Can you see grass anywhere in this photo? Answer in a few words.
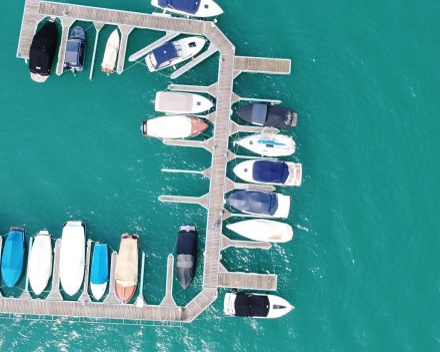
No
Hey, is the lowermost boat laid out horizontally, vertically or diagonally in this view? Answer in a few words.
horizontally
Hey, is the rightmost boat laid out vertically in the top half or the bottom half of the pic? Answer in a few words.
bottom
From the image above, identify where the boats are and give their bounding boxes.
[235,104,296,129]
[60,221,86,296]
[91,242,110,301]
[30,17,59,85]
[223,292,295,319]
[175,223,196,290]
[65,26,85,74]
[226,190,291,219]
[141,115,208,139]
[150,92,214,114]
[28,230,53,296]
[145,38,208,74]
[233,134,296,156]
[114,233,139,304]
[225,217,293,241]
[102,30,120,75]
[1,225,26,287]
[232,159,302,186]
[150,0,223,18]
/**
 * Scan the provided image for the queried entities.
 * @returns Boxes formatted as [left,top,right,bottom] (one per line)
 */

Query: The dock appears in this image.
[0,0,291,326]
